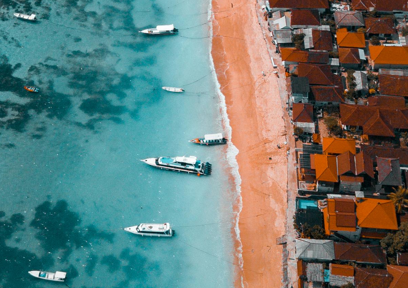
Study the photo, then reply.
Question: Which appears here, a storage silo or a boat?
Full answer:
There is a boat in the scene.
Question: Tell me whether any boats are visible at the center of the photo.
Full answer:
Yes, there is a boat at the center of the photo.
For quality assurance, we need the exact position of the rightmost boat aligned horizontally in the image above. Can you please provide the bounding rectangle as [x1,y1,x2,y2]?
[187,133,230,145]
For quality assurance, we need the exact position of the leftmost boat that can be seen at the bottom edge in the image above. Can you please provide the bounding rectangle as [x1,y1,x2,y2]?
[27,269,68,281]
